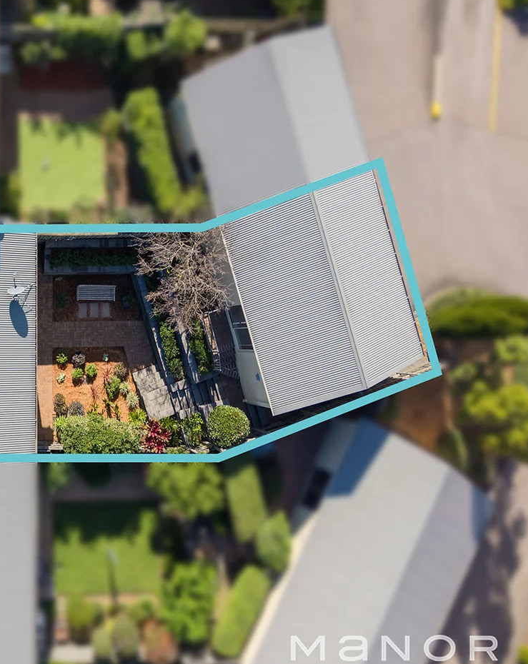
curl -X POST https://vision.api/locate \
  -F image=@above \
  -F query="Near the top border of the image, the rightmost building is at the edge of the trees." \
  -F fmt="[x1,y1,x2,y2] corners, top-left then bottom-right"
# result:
[178,23,379,225]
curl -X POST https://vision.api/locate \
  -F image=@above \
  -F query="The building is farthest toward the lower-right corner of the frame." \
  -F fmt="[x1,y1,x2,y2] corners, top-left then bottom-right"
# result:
[235,419,494,664]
